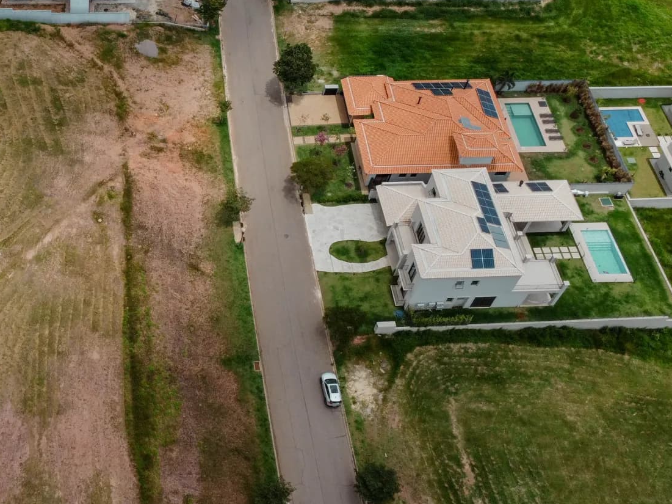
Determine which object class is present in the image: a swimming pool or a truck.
swimming pool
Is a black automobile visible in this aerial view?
No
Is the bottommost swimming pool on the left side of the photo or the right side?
right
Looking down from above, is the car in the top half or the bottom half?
bottom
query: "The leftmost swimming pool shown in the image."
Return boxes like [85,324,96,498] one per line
[504,102,547,148]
